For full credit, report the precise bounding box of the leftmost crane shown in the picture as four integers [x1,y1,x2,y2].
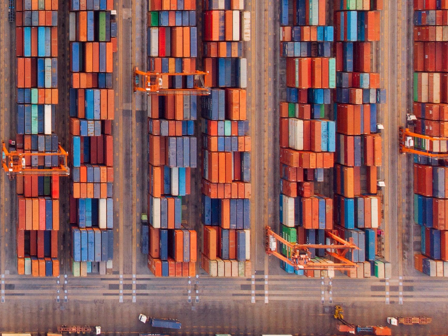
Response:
[1,141,71,174]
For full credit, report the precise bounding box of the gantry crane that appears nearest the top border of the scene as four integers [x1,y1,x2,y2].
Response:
[133,66,211,95]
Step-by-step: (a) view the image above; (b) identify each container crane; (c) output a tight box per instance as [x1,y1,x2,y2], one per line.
[399,126,448,160]
[133,66,211,95]
[264,226,353,270]
[1,141,71,174]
